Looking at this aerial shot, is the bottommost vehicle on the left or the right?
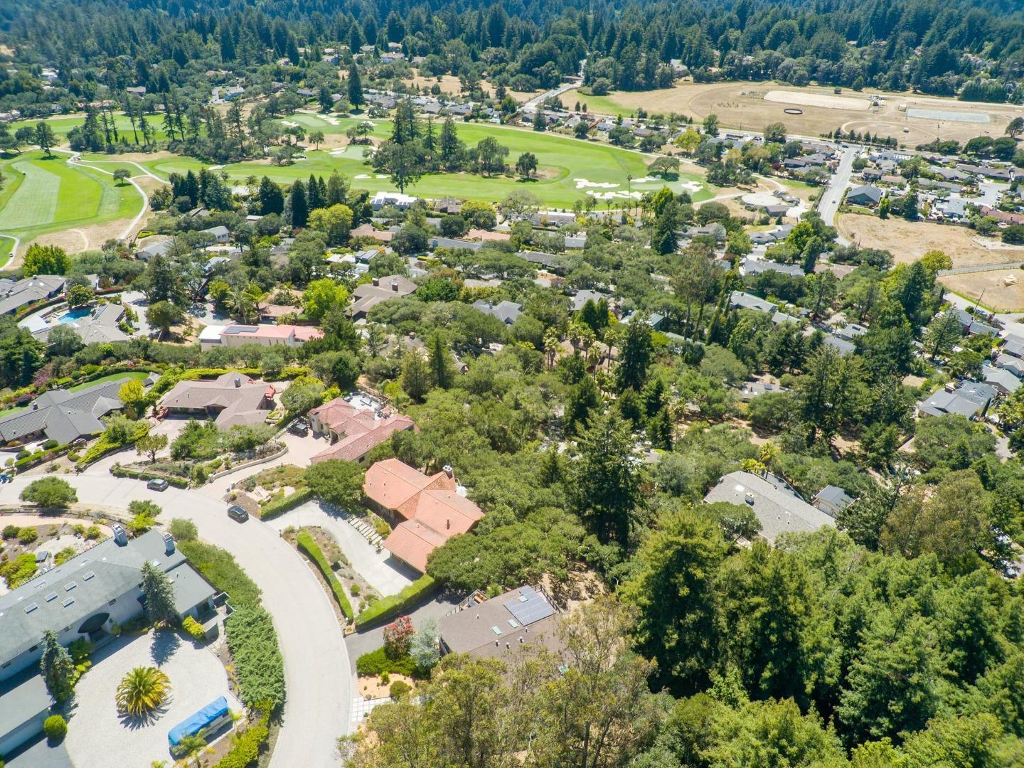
left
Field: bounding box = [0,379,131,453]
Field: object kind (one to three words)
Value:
house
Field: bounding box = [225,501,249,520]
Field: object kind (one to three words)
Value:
car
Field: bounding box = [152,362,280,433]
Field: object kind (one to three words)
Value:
house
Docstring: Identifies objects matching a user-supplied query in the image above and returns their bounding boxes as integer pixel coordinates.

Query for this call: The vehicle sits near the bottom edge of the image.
[164,693,235,752]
